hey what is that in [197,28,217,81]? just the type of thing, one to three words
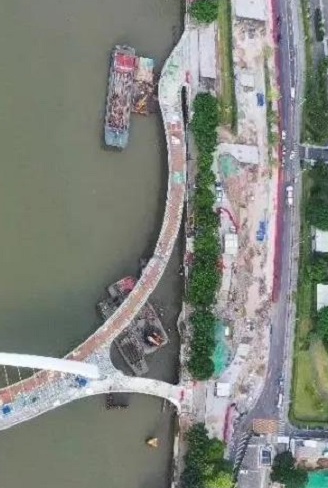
shed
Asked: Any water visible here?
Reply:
Yes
